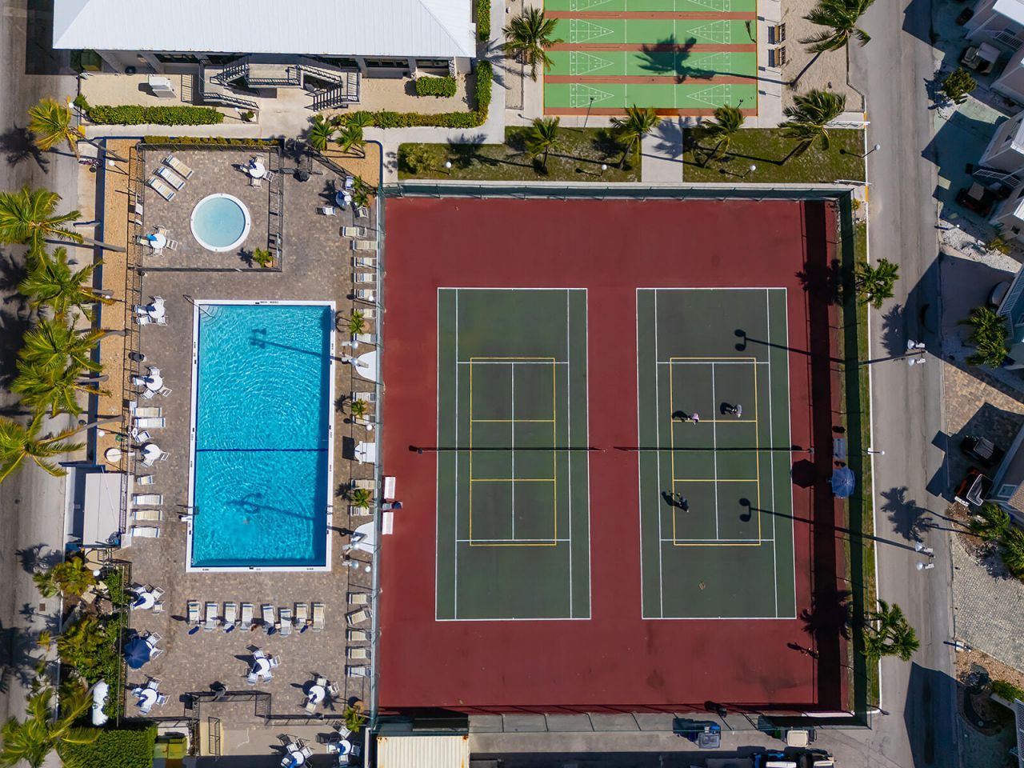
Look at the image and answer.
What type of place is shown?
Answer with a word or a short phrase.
sports ground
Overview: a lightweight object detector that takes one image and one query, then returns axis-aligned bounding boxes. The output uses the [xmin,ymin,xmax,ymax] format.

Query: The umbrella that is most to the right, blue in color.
[825,467,855,496]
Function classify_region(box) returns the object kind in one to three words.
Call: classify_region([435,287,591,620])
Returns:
tennis court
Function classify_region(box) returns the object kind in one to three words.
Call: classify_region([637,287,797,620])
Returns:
tennis court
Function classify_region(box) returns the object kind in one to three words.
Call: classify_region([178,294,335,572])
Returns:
swimming pool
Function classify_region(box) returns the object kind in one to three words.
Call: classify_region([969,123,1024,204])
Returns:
house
